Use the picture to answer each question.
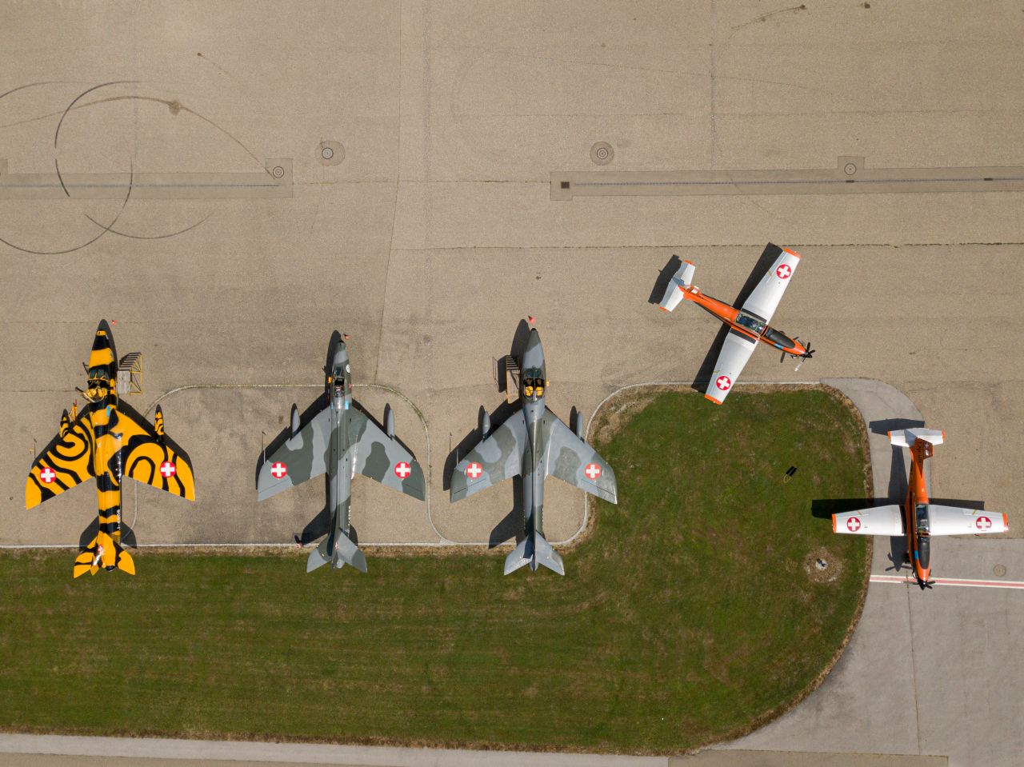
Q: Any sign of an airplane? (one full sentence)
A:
Yes, there's an airplane down there.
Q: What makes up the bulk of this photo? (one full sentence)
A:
The bulk of the photo consists of paved ground.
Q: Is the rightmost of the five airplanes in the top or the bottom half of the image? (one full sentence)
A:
The rightmost of the five airplanes is in the bottom half of the image.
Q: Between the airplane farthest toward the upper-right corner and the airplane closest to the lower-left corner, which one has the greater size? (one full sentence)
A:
The airplane farthest toward the upper-right corner is smaller than the airplane closest to the lower-left corner.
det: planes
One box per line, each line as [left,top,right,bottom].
[450,327,618,575]
[658,247,818,404]
[27,330,195,579]
[258,339,426,573]
[833,427,1005,591]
